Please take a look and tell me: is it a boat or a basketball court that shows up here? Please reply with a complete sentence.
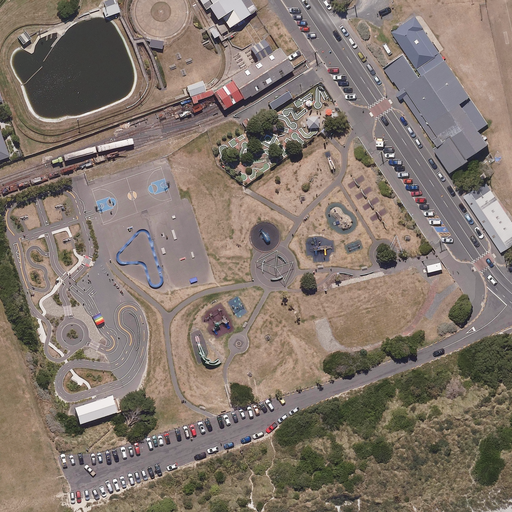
Visible in the photo is a basketball court.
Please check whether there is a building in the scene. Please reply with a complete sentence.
Yes, the image includes a building.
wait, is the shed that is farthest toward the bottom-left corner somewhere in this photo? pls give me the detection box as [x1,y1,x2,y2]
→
[75,396,118,424]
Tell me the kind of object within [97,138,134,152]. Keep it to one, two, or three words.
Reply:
rail car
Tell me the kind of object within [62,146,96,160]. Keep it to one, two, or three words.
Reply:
rail car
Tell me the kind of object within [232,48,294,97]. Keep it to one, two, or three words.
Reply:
building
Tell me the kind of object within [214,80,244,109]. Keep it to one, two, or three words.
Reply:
shed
